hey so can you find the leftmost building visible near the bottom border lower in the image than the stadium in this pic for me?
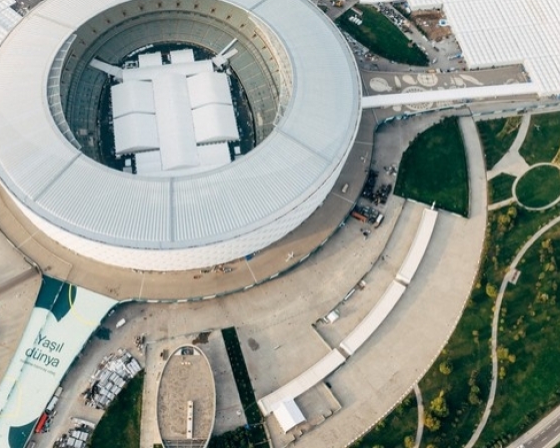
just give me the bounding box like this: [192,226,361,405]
[155,343,218,448]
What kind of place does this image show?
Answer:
sports ground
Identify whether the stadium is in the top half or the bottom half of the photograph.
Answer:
top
